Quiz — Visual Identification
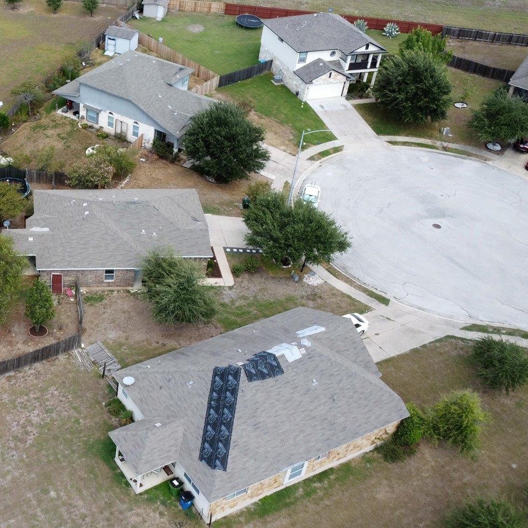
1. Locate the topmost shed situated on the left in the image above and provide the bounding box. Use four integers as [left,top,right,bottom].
[143,0,169,21]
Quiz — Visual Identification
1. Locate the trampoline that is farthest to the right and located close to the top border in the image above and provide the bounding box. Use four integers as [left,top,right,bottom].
[236,16,262,32]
